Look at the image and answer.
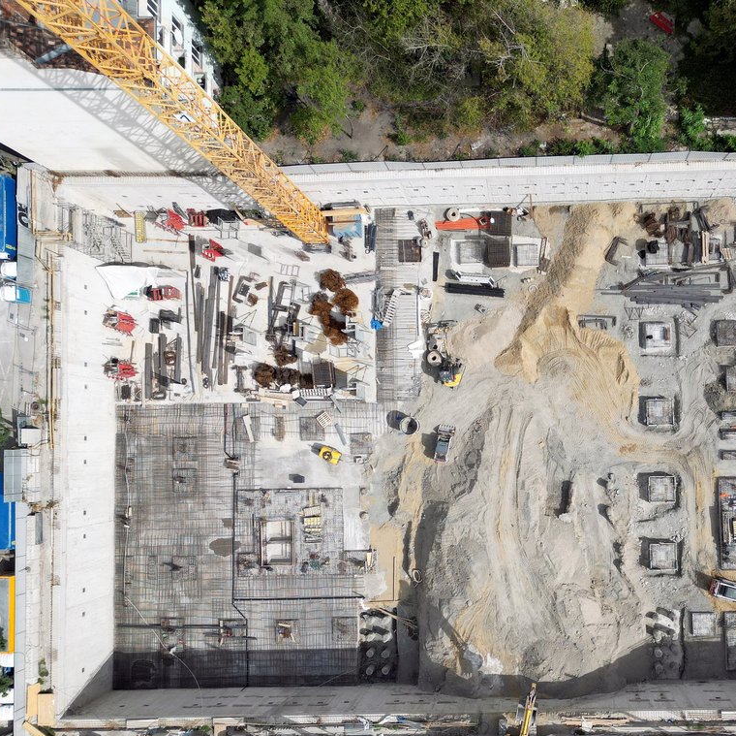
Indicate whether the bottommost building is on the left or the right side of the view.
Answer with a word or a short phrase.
left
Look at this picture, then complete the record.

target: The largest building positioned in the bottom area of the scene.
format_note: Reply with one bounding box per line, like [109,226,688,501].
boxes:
[3,450,44,501]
